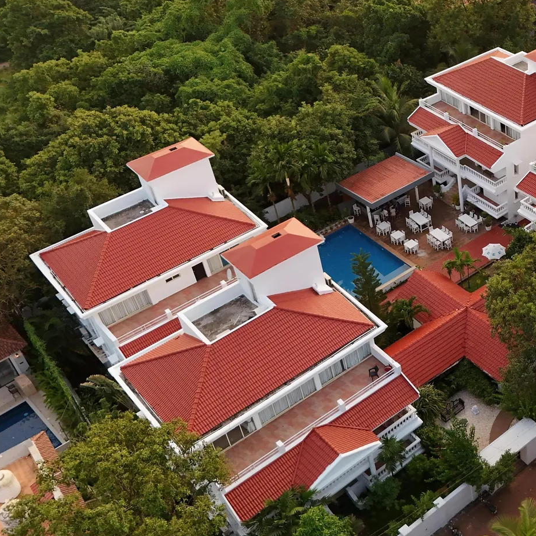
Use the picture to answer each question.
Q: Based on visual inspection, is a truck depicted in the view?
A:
No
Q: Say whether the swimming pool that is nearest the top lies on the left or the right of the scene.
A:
right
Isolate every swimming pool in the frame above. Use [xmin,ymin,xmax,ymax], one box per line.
[0,405,44,448]
[319,224,408,298]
